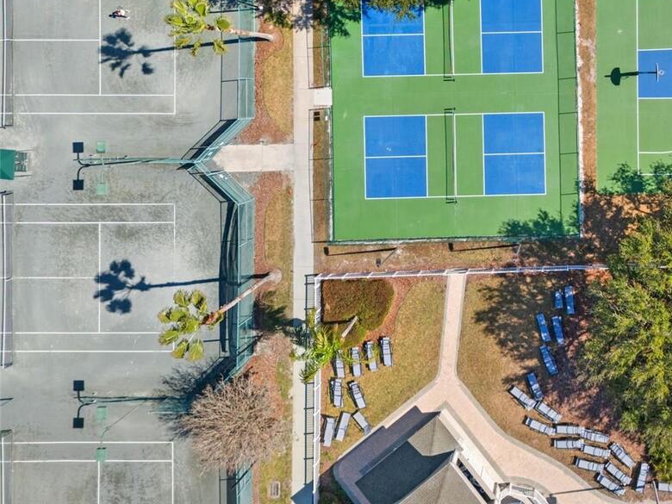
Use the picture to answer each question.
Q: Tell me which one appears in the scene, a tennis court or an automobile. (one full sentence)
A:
The image shows a tennis court.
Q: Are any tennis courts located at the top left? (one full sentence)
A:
Yes, looking at the top left, one can make out a tennis court.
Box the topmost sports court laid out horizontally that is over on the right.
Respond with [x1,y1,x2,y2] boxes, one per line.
[331,0,577,97]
